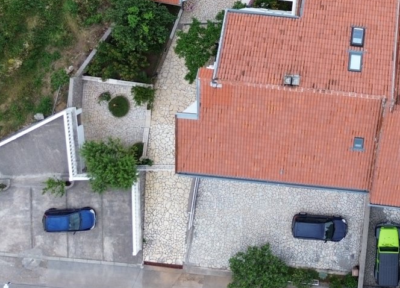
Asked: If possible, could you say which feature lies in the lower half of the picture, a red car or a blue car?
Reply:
blue car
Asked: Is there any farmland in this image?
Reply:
No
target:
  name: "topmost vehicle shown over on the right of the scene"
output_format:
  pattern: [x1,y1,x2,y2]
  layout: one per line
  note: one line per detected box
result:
[290,211,348,243]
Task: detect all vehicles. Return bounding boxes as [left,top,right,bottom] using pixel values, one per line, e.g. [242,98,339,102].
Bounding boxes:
[40,204,98,235]
[373,226,400,288]
[290,211,348,243]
